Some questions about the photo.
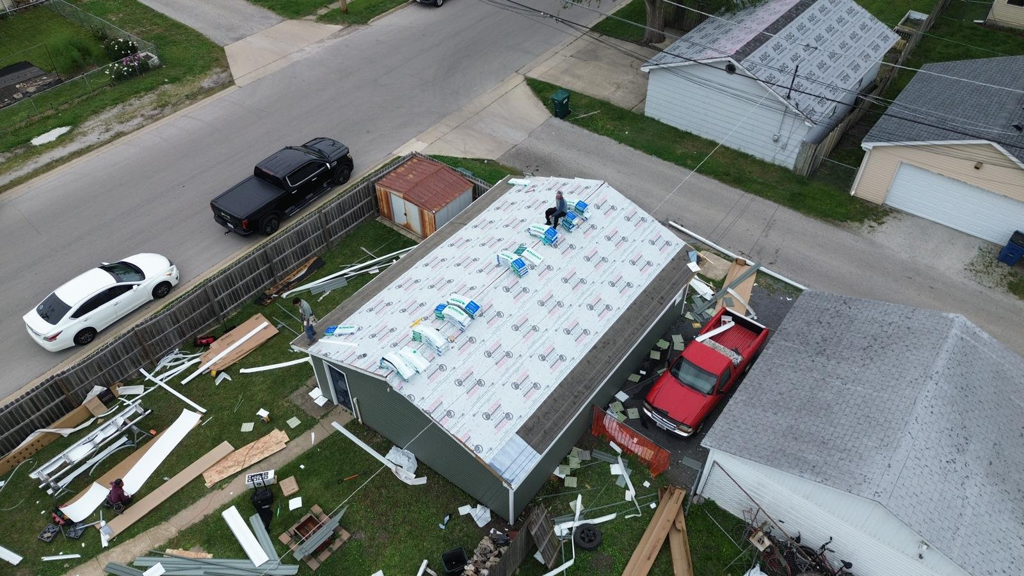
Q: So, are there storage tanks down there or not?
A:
No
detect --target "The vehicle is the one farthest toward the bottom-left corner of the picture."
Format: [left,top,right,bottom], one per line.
[28,248,186,351]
